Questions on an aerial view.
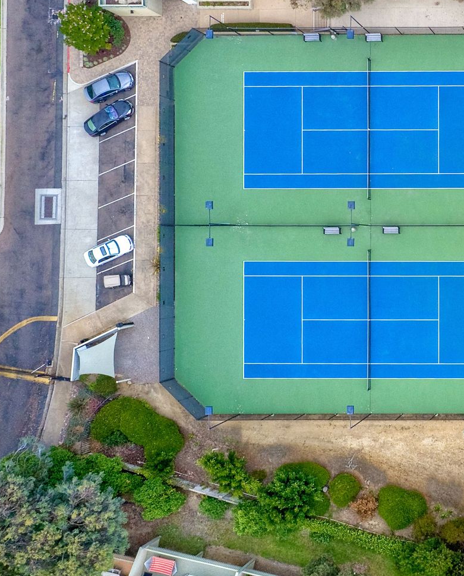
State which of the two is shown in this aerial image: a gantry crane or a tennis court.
tennis court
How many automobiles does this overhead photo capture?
3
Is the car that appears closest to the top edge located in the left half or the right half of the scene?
left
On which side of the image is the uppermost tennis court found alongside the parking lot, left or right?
right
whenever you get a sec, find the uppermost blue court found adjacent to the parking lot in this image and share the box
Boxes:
[243,71,464,188]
